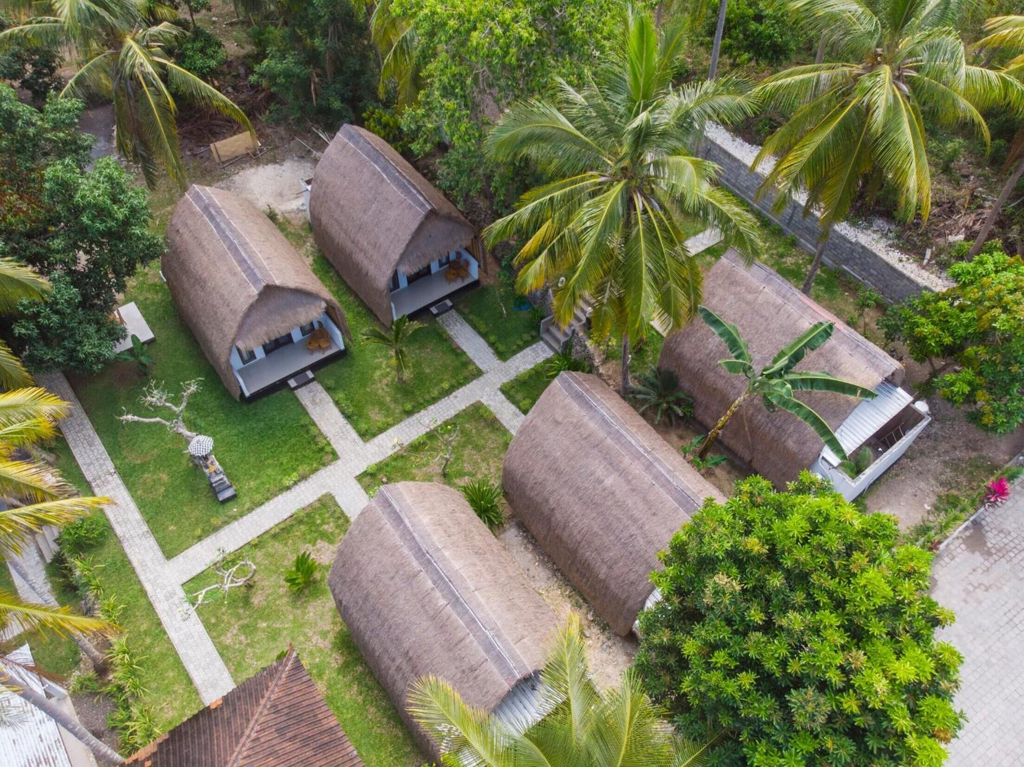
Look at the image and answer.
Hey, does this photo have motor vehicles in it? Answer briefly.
No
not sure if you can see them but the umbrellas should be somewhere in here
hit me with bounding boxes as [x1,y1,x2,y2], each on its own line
[179,433,208,458]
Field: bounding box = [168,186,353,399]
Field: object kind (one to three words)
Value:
shed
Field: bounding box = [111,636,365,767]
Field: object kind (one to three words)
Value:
building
